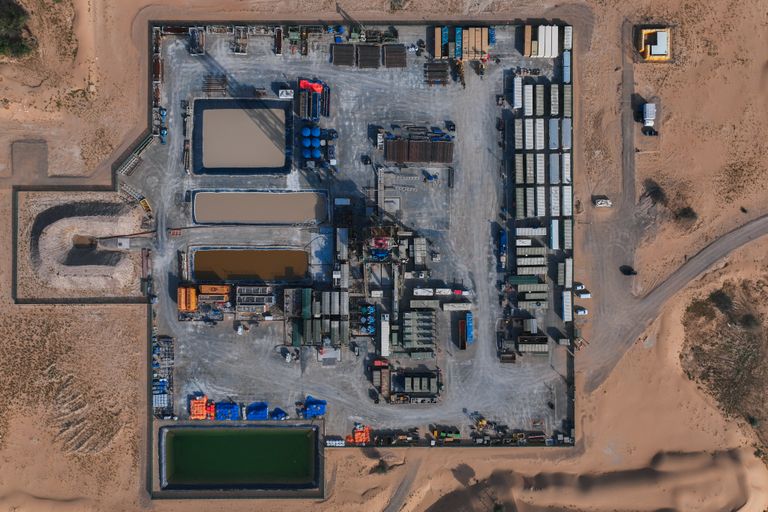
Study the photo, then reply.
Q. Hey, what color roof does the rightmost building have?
white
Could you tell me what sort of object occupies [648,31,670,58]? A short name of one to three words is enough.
building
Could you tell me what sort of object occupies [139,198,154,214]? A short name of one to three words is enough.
vehicle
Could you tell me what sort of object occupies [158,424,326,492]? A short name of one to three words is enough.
pond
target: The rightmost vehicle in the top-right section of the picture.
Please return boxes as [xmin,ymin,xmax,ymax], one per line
[641,103,657,135]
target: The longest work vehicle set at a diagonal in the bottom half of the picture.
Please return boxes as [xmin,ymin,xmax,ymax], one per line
[466,403,488,429]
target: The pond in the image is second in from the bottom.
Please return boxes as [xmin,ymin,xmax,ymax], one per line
[187,245,313,286]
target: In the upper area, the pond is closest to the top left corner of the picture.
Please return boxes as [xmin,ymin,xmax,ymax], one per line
[191,97,295,176]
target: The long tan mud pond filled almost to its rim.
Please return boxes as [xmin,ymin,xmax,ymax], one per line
[190,188,330,227]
